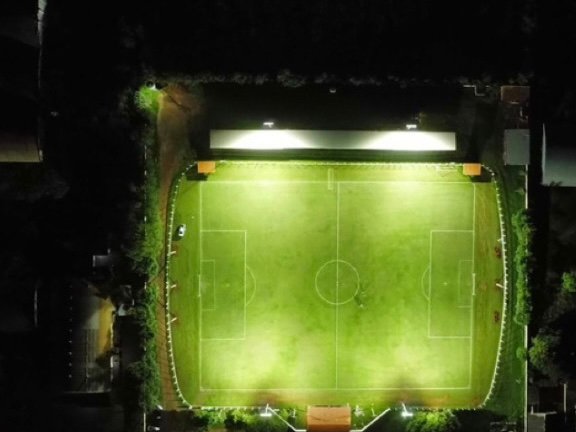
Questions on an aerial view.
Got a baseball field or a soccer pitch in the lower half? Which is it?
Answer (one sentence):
It is a soccer pitch that can be seen in the lower half.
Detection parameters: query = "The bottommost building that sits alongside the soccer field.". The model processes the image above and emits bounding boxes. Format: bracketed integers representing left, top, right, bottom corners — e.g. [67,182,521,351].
[307,406,352,432]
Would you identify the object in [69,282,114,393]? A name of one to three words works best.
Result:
shed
